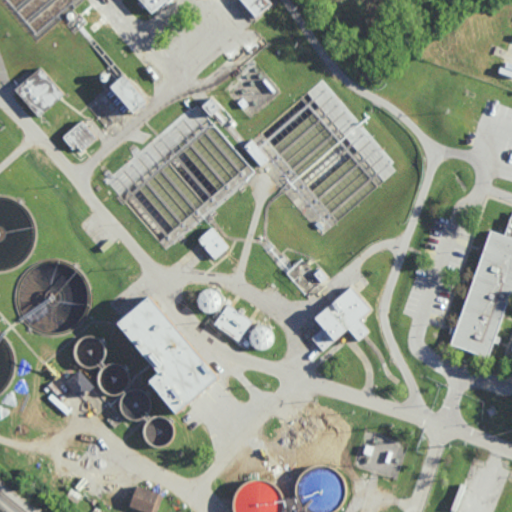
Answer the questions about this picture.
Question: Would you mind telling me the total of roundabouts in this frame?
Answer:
0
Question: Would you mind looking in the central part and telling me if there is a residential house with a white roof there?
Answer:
Yes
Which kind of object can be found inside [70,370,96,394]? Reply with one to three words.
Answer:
shed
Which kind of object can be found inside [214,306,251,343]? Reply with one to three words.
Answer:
house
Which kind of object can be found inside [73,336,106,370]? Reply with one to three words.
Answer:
storage tank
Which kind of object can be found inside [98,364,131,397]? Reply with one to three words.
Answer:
storage tank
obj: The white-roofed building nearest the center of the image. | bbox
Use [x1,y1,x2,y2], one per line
[198,228,230,260]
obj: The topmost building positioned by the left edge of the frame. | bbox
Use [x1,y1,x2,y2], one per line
[15,68,64,118]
